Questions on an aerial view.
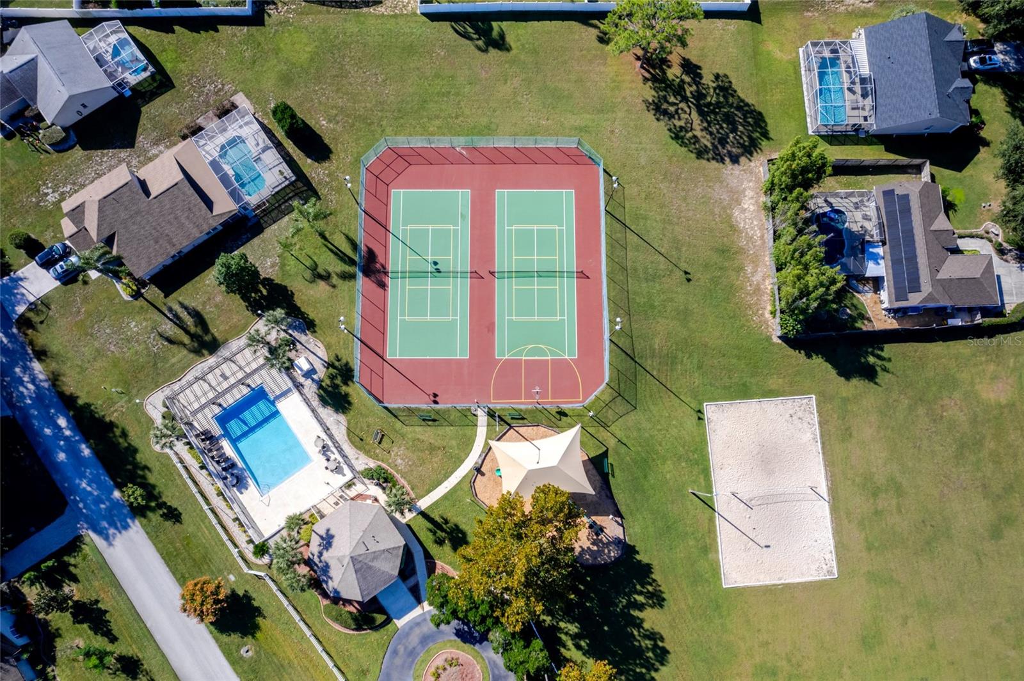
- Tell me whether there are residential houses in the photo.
Yes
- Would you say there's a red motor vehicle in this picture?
No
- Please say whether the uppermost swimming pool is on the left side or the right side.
left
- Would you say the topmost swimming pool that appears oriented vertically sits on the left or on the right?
right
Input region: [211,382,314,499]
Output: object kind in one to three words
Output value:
swimming pool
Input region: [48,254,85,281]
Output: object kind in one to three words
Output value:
car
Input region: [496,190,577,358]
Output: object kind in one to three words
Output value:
tennis court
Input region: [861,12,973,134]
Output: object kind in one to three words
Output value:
house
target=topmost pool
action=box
[110,35,150,77]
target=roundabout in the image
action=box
[377,608,523,681]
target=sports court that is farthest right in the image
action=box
[704,396,838,587]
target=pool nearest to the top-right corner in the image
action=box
[816,54,849,126]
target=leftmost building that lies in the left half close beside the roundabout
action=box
[308,500,406,602]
